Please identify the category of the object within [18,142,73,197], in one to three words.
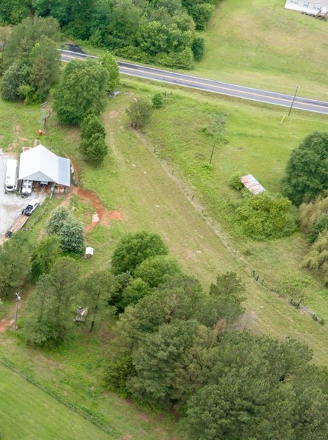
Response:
barn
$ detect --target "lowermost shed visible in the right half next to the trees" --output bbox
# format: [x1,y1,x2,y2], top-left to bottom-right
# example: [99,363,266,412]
[238,175,267,201]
